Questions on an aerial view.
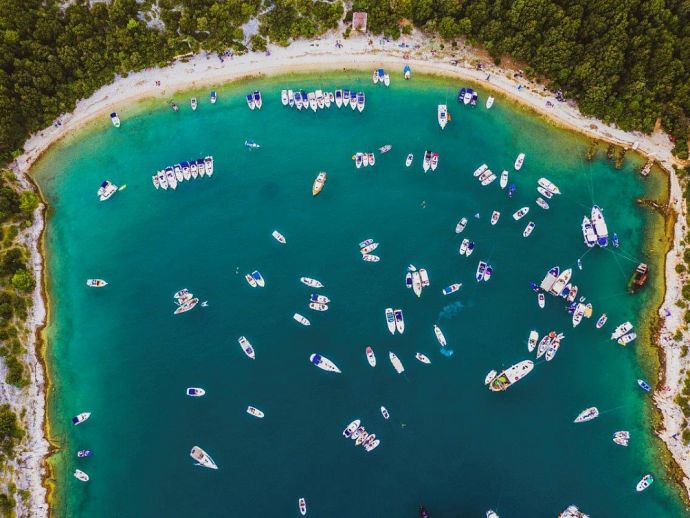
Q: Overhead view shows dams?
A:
No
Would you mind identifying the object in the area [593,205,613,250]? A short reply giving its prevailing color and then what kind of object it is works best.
white boat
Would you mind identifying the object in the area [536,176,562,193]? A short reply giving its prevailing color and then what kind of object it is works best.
white boat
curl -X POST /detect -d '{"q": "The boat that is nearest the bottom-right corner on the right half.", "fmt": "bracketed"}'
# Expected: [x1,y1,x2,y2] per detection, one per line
[637,473,656,492]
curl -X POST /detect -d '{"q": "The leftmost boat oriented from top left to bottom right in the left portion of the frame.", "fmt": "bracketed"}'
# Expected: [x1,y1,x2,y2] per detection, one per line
[73,468,90,482]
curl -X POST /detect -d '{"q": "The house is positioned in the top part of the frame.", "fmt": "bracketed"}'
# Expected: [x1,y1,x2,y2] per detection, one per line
[352,11,368,40]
